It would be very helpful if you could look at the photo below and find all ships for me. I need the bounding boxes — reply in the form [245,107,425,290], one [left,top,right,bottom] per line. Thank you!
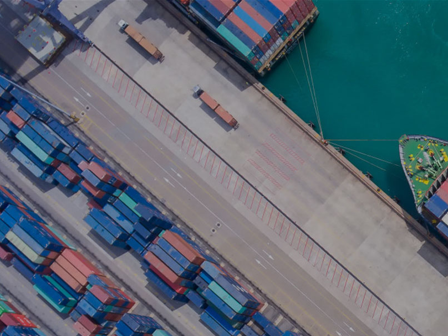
[398,133,448,241]
[174,0,326,85]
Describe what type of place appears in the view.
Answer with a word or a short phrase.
port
